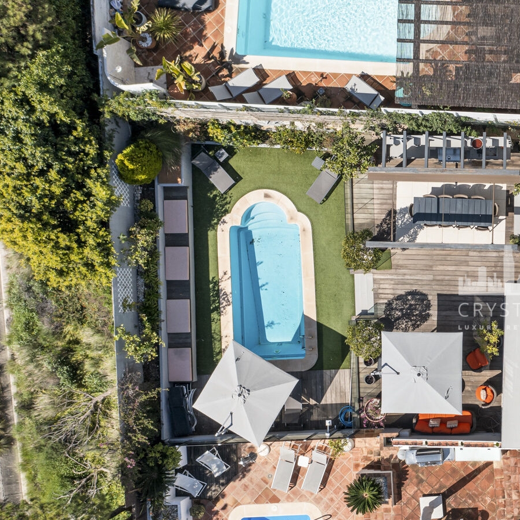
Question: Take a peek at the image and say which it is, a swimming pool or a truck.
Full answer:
Visible in the photo is a swimming pool.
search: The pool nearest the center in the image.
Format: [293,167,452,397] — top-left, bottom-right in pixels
[218,189,317,371]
